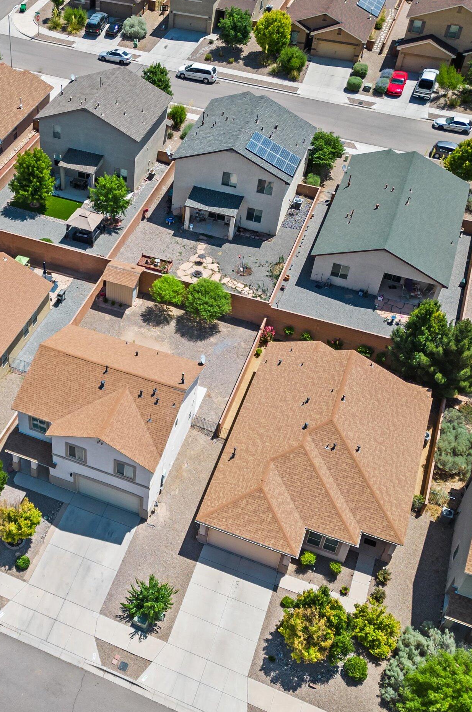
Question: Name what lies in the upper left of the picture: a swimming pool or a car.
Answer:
car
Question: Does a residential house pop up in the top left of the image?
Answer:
Yes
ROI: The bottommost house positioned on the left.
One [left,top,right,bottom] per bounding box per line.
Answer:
[4,324,207,519]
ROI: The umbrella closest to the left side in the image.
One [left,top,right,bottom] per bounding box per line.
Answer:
[13,255,35,268]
